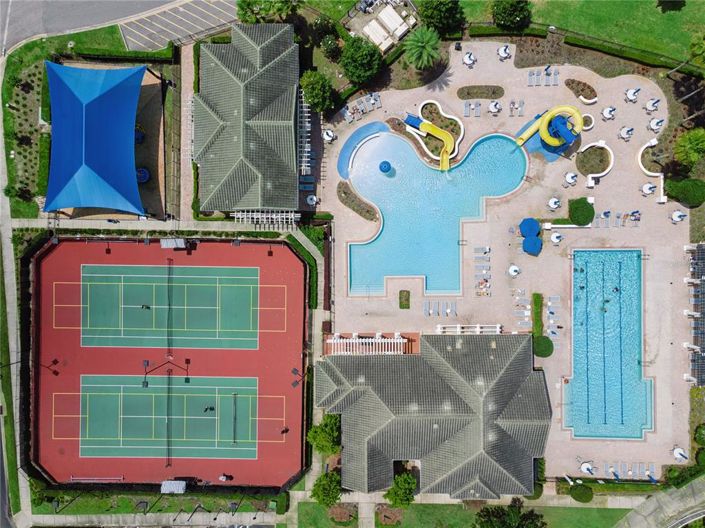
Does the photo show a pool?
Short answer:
Yes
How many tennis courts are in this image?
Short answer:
2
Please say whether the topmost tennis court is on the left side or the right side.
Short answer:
left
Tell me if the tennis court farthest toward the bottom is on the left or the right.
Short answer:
left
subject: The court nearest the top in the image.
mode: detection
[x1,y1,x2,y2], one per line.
[34,242,304,363]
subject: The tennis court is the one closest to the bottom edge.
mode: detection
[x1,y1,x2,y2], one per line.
[34,361,304,486]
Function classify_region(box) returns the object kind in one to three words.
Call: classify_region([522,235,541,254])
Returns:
umbrella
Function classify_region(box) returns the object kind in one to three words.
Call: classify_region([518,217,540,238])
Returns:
umbrella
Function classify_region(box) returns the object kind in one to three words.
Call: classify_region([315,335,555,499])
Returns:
building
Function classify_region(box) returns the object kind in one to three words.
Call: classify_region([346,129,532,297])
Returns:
swimming pool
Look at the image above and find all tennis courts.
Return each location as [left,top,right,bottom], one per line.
[34,361,304,486]
[34,242,304,363]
